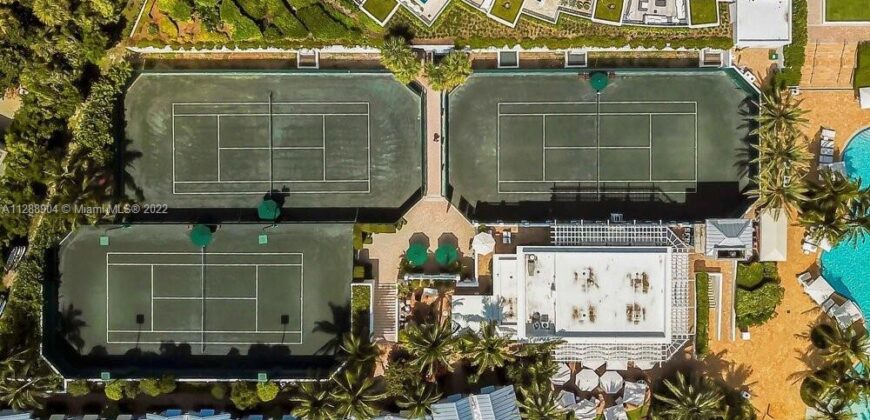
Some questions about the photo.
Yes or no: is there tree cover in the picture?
Yes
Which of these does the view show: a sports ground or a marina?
sports ground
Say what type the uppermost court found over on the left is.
tennis court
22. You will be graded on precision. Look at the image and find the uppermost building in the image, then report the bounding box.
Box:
[732,0,793,46]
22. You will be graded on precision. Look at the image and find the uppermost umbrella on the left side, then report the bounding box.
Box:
[257,200,280,220]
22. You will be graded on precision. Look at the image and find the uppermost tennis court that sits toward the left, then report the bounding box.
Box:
[125,74,421,222]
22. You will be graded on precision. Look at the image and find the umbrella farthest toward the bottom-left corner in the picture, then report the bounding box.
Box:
[190,225,213,247]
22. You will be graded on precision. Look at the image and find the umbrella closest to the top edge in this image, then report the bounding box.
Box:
[587,71,608,92]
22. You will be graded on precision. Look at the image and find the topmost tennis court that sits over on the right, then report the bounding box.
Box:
[448,74,749,222]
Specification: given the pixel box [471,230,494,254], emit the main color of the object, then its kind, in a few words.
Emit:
white umbrella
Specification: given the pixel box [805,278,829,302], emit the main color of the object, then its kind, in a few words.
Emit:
white umbrella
